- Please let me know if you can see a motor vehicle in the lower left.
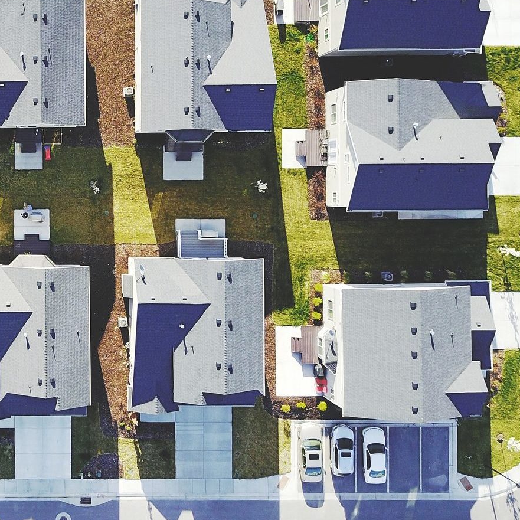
No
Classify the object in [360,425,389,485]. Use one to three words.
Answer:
car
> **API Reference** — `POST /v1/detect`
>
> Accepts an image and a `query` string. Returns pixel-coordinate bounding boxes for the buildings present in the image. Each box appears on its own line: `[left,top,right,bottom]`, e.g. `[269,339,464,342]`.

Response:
[320,0,491,55]
[0,247,91,420]
[326,79,500,212]
[0,0,86,131]
[135,0,278,148]
[308,279,506,426]
[121,254,266,415]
